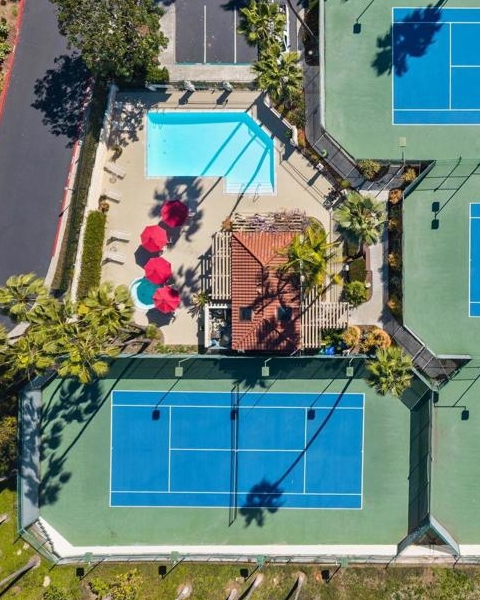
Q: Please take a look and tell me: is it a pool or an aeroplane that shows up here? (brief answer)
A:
pool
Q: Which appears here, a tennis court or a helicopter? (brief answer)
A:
tennis court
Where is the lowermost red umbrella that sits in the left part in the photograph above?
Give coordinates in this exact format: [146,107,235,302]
[154,286,180,312]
